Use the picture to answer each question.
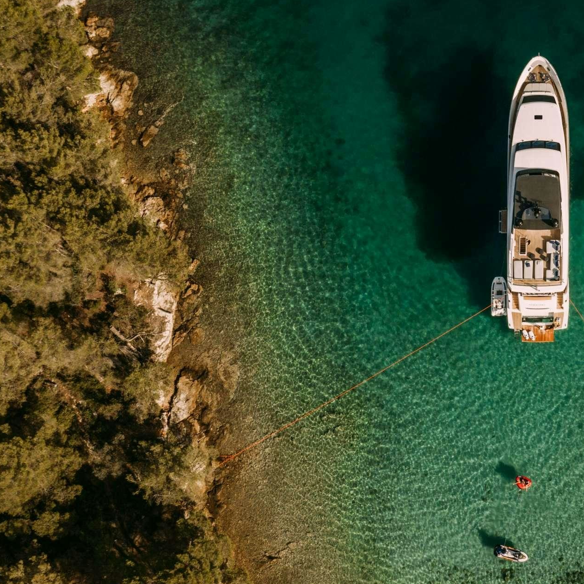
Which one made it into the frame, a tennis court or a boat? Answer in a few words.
boat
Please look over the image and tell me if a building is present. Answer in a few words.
No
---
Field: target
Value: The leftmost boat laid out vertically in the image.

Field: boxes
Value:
[490,277,507,316]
